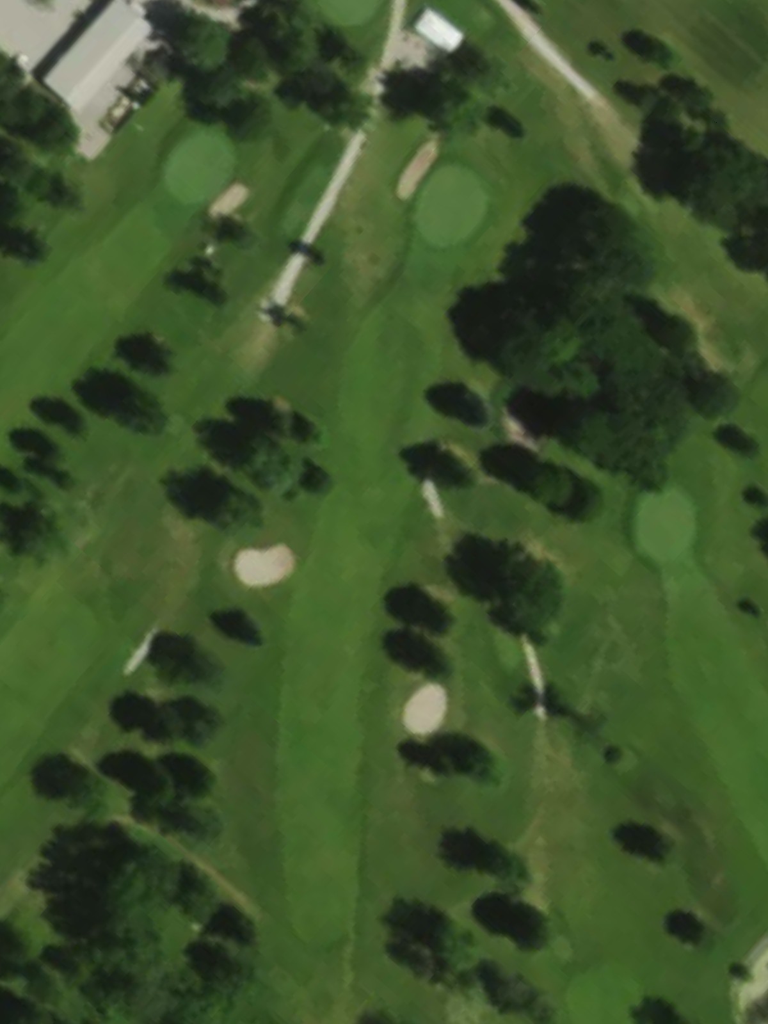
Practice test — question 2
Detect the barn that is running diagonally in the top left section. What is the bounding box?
[40,0,151,111]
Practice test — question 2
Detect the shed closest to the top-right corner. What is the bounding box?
[414,7,465,54]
